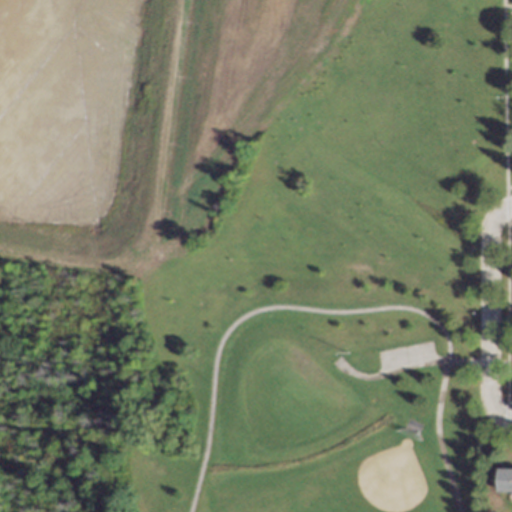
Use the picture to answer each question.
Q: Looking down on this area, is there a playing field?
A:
Yes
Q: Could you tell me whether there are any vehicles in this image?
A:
No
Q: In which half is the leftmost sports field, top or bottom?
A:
bottom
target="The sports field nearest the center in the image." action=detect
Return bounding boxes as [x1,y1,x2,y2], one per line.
[245,337,372,447]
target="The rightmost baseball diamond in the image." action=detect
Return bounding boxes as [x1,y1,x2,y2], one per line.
[358,438,428,512]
